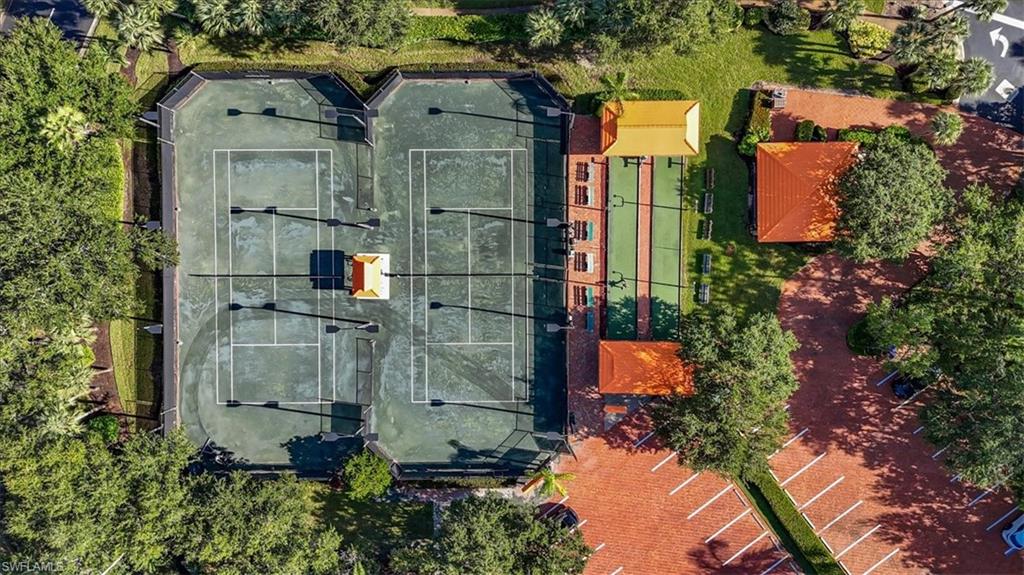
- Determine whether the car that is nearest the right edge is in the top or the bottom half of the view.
bottom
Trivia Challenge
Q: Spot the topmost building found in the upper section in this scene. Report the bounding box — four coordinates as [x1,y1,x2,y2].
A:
[599,101,699,158]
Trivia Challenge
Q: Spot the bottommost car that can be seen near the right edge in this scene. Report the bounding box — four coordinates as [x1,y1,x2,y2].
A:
[1002,519,1024,551]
